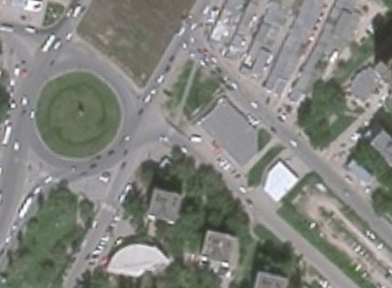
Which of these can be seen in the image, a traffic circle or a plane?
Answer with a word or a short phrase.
traffic circle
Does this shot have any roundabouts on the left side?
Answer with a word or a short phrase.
Yes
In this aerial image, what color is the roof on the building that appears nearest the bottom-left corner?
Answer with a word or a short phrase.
white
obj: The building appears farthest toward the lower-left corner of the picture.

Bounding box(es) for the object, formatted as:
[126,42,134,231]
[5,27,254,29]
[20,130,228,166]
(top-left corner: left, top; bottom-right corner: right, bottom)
[107,244,171,278]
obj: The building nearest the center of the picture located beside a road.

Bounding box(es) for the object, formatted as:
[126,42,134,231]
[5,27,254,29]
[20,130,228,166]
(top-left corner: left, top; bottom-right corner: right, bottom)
[196,97,260,169]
